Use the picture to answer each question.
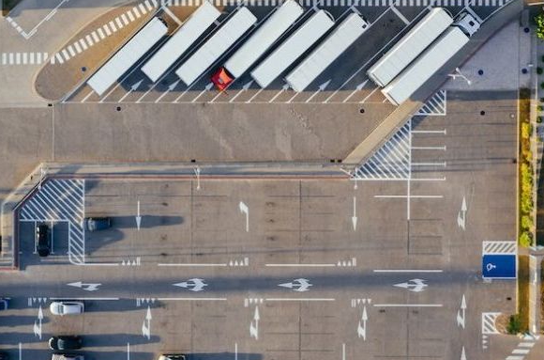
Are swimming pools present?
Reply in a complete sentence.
No, I can see no swimming pool in this picture.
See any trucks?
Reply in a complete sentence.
Yes, the photo shows a truck.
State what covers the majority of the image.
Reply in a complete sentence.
For the most part, this view shows paved ground.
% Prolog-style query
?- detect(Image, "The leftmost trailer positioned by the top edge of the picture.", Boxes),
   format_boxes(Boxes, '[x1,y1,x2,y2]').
[88,18,166,95]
